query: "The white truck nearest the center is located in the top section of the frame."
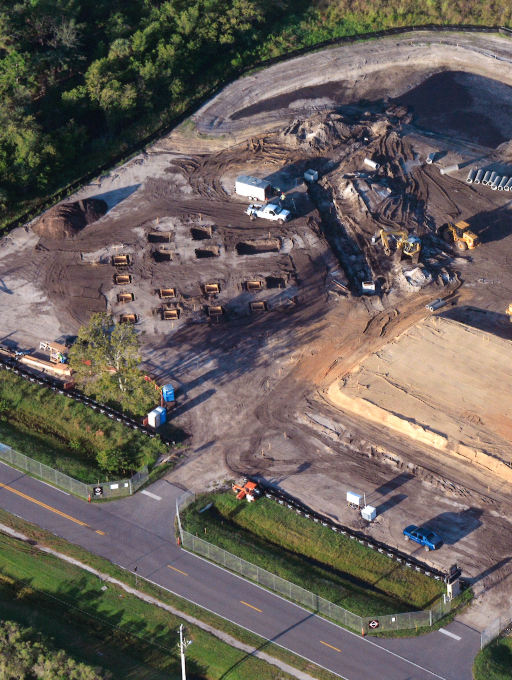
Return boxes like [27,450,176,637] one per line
[248,202,293,224]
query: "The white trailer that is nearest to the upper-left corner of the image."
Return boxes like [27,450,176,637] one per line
[228,174,279,204]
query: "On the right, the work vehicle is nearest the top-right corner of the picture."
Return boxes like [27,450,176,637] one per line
[435,219,481,251]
